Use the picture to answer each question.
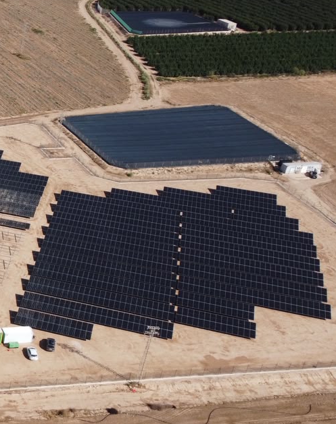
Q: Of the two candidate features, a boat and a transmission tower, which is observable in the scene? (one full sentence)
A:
Looking from above, you can make out a transmission tower.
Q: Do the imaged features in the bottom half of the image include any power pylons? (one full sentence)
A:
Yes, in the bottom half of the image there is a power pylon.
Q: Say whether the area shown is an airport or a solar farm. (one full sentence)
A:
This image shows a solar farm.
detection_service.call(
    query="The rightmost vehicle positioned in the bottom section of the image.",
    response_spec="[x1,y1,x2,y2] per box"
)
[44,334,57,352]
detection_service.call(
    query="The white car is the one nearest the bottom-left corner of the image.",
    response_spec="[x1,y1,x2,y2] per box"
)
[24,345,38,361]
